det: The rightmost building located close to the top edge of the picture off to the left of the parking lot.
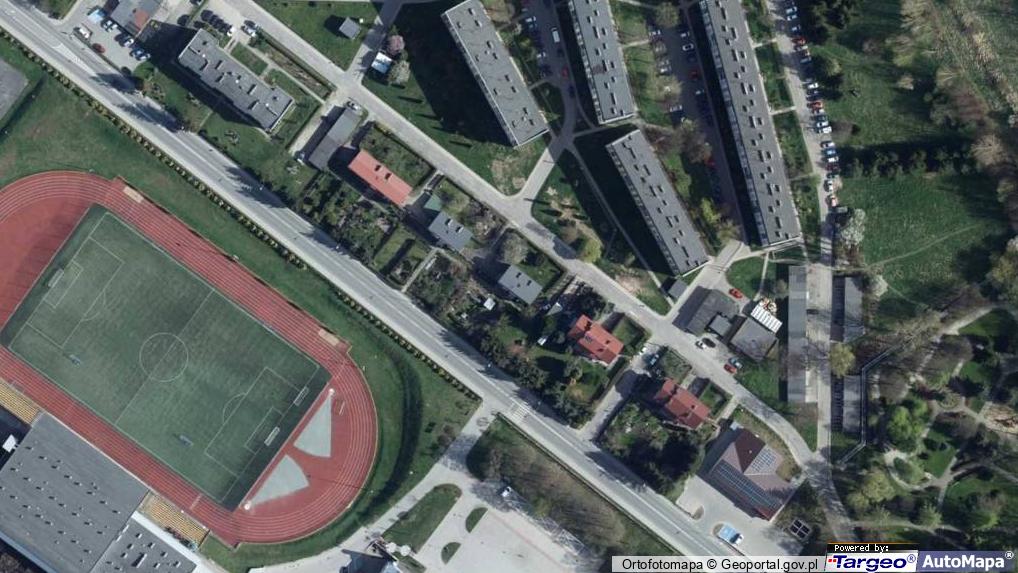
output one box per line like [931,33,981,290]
[569,0,636,124]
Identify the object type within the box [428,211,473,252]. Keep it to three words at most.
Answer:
house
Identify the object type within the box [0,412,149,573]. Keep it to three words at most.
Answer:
building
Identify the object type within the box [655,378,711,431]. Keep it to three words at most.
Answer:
house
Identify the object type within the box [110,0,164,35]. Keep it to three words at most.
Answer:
building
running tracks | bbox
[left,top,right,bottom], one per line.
[0,169,379,552]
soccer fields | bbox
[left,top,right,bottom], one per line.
[0,201,333,513]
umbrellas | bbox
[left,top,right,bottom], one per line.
[400,545,410,555]
[386,541,396,552]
